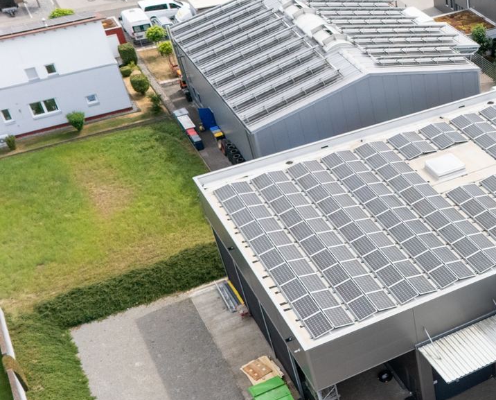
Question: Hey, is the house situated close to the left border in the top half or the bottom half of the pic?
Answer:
top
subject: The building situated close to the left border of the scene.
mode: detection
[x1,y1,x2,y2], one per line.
[0,5,131,138]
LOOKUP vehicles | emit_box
[154,17,177,36]
[0,0,29,17]
[175,3,201,23]
[119,8,148,43]
[167,56,190,94]
[139,0,186,21]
